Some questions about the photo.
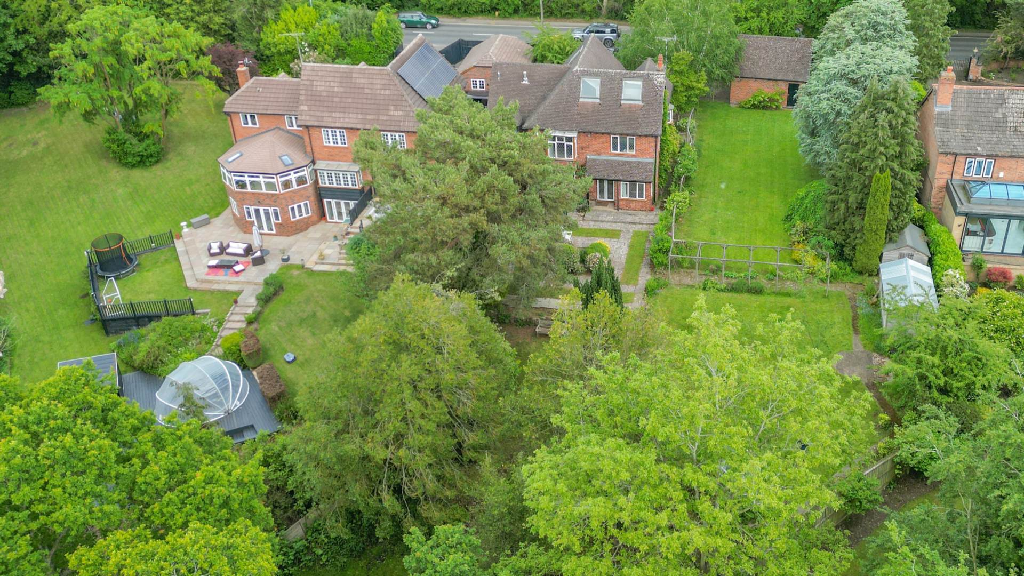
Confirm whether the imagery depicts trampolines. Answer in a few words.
Yes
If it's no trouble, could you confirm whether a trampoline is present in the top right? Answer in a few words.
No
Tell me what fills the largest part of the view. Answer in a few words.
trees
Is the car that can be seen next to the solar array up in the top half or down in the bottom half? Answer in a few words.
top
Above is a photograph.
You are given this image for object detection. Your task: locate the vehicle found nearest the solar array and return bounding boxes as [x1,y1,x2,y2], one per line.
[396,9,441,31]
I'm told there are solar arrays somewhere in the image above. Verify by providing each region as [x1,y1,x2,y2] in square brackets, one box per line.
[396,36,452,94]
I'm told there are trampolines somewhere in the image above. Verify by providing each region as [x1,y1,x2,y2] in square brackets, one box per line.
[84,230,135,279]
